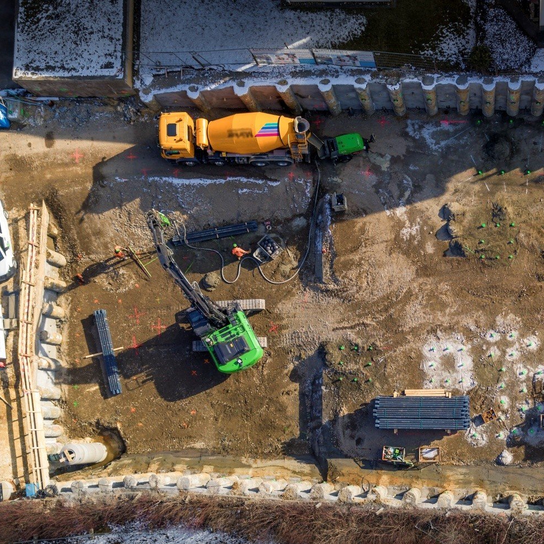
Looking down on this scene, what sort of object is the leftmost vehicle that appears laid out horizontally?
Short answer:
truck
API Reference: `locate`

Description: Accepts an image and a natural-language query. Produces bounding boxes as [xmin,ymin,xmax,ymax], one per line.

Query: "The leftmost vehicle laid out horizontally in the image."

[164,108,329,172]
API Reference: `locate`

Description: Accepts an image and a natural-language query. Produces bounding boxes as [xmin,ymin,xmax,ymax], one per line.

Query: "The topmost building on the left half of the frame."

[12,0,156,105]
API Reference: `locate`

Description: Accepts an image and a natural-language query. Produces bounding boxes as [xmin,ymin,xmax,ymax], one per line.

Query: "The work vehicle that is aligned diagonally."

[154,216,272,372]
